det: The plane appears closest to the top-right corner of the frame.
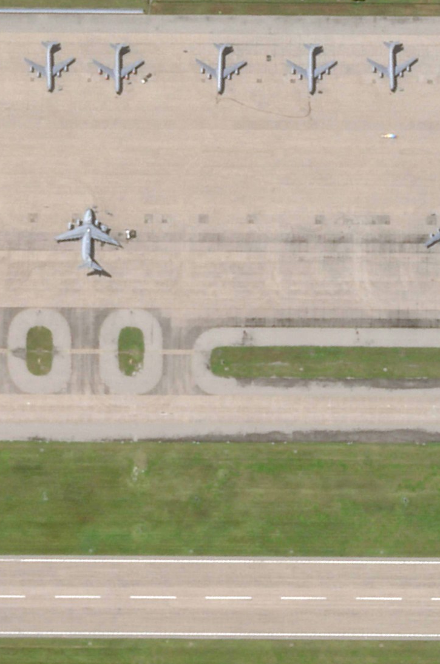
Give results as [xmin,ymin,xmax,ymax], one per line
[367,40,417,92]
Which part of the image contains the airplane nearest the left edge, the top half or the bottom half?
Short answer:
top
